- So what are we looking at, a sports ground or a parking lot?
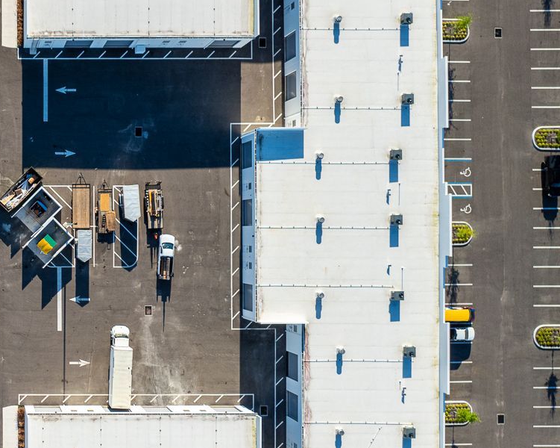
parking lot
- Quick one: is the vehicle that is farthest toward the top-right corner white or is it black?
black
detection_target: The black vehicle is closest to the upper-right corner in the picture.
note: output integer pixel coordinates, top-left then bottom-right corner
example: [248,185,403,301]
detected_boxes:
[540,154,560,194]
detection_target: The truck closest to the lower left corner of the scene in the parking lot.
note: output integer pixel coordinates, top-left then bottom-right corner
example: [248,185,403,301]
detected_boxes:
[111,329,134,408]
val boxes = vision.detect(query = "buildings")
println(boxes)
[22,402,258,448]
[239,0,451,448]
[22,0,258,51]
